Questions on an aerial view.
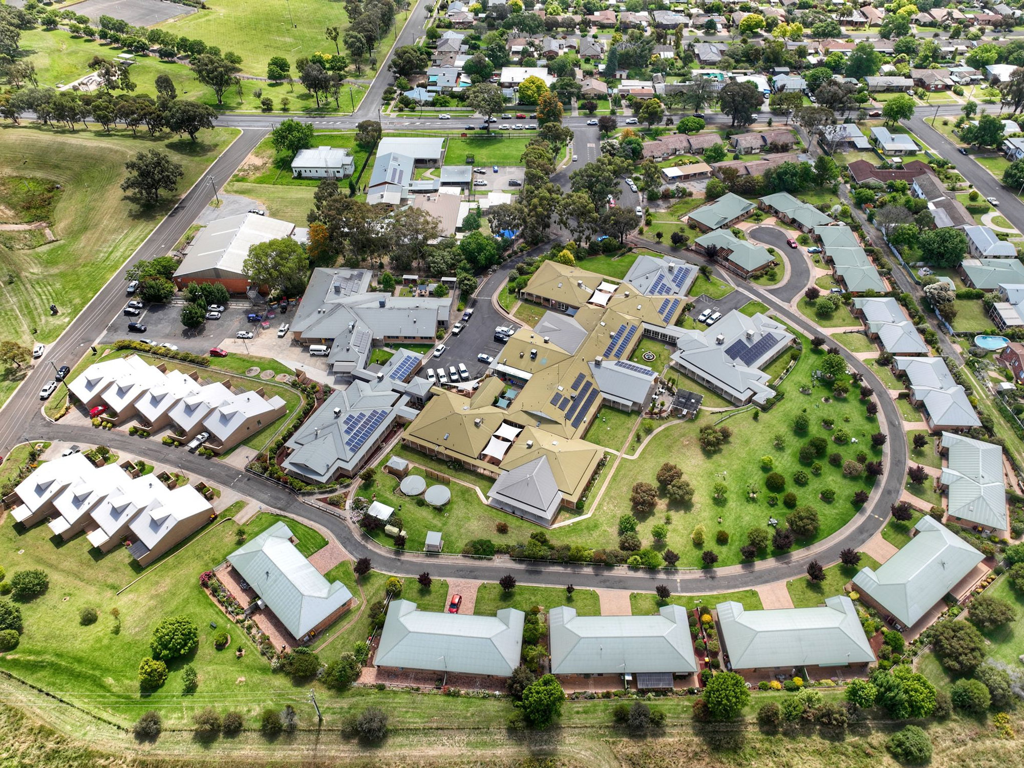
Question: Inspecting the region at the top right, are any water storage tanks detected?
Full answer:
No, I can find no water storage tank at the top right.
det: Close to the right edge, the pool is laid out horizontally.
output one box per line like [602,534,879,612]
[971,336,1008,353]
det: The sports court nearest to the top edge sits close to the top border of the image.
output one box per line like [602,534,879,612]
[58,0,191,26]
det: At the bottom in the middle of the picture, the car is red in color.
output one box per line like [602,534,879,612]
[449,592,462,614]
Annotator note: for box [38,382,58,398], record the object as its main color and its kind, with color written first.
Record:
white vehicle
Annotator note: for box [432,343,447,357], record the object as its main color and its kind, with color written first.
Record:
white car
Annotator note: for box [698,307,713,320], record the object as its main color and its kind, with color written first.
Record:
white vehicle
